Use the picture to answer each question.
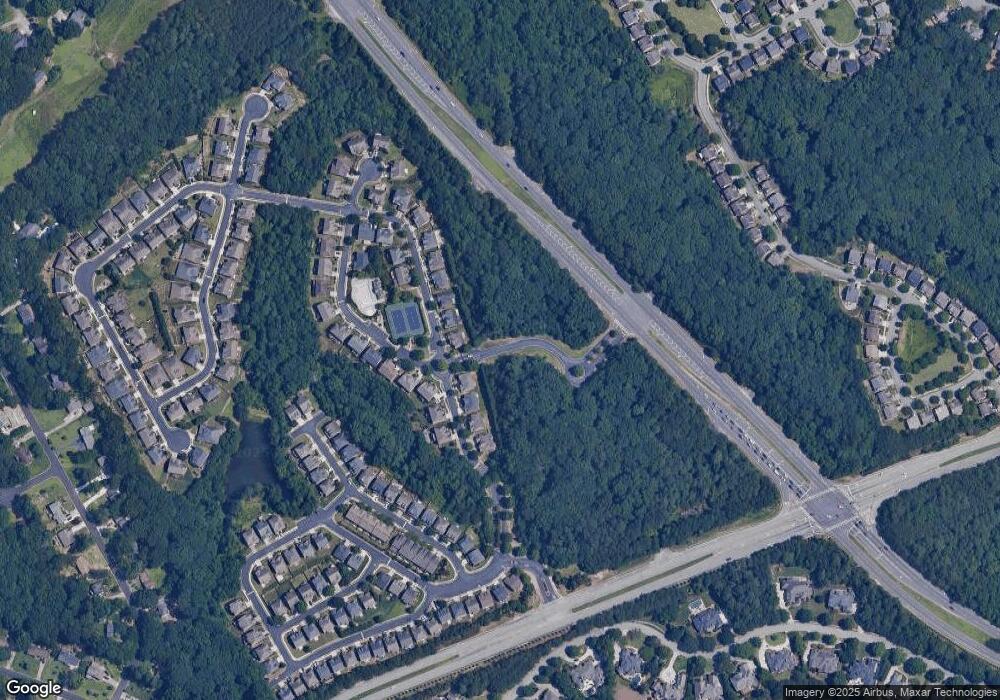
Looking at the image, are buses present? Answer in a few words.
No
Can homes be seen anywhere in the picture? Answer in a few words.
Yes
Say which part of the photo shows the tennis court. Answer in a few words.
center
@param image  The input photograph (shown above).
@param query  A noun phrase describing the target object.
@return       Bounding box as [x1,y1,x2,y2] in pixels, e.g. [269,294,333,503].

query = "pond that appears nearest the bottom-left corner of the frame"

[227,420,282,498]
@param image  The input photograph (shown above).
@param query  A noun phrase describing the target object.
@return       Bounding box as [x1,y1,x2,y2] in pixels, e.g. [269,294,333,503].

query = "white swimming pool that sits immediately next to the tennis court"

[352,276,381,316]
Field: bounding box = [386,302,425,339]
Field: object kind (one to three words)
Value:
tennis court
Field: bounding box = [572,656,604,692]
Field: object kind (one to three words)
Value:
house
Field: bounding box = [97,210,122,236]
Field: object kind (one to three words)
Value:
house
